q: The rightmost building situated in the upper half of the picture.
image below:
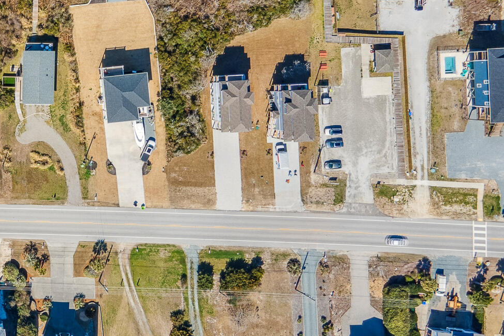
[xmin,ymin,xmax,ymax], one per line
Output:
[453,48,504,137]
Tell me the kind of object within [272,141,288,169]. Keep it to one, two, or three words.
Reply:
vehicle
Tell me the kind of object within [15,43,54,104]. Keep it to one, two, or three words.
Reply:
house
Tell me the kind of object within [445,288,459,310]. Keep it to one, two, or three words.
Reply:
work vehicle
